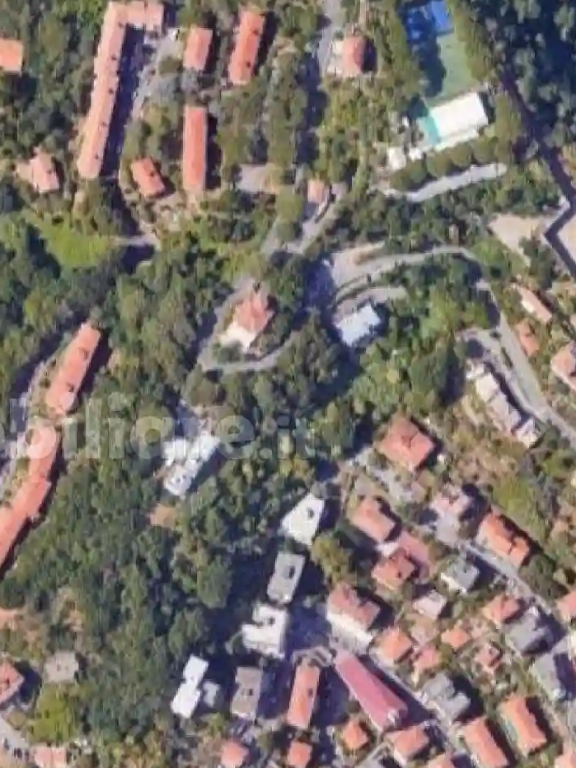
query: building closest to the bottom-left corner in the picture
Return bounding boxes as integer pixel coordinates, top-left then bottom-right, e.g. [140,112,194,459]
[33,746,67,768]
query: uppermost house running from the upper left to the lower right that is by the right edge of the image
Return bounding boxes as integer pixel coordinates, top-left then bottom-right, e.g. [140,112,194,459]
[513,284,553,323]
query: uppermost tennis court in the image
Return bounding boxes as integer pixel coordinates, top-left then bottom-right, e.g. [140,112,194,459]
[403,0,453,44]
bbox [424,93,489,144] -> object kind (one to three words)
building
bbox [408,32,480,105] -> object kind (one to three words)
sports court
